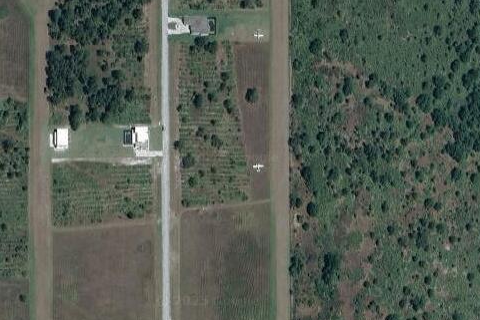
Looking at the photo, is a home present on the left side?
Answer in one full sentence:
Yes, a home can be seen on the left side.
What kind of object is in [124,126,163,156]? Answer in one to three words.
house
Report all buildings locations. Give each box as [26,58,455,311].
[124,126,163,156]
[169,17,216,35]
[50,129,68,150]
